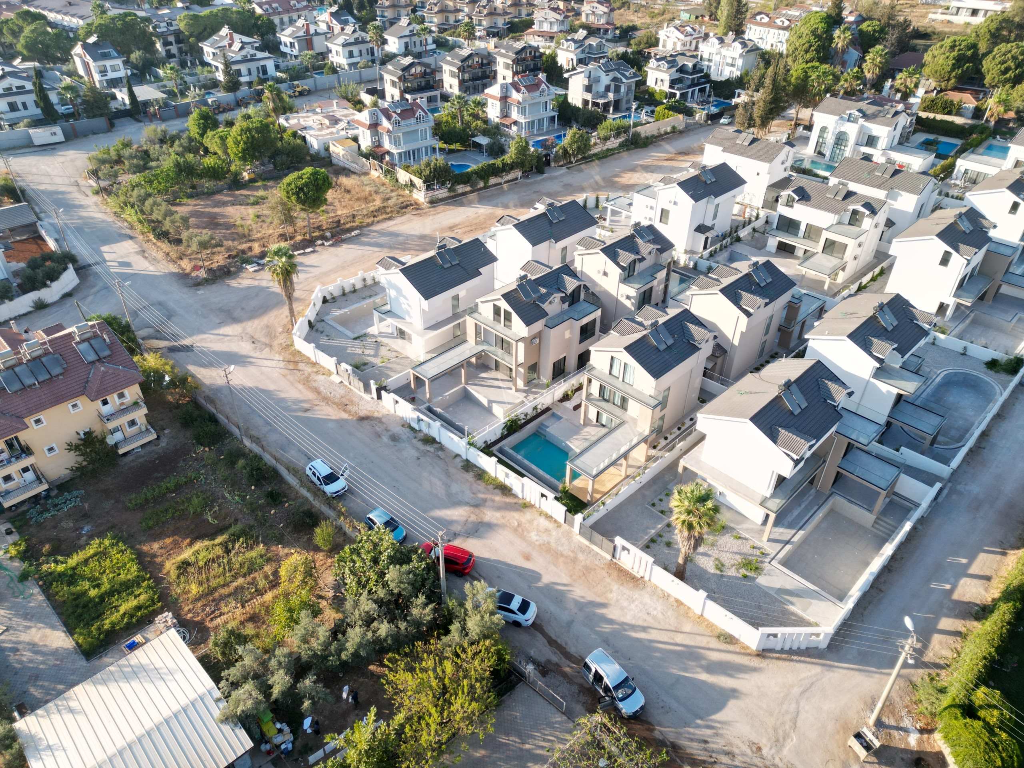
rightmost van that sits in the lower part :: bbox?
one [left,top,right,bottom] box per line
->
[583,646,643,717]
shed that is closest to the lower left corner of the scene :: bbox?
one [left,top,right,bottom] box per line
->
[15,628,277,768]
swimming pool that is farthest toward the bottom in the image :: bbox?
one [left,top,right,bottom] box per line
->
[773,493,915,604]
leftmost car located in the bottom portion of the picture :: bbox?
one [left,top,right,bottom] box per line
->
[305,455,348,494]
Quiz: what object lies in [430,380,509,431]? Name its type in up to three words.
swimming pool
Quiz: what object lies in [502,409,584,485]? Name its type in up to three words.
swimming pool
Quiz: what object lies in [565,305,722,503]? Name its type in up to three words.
house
